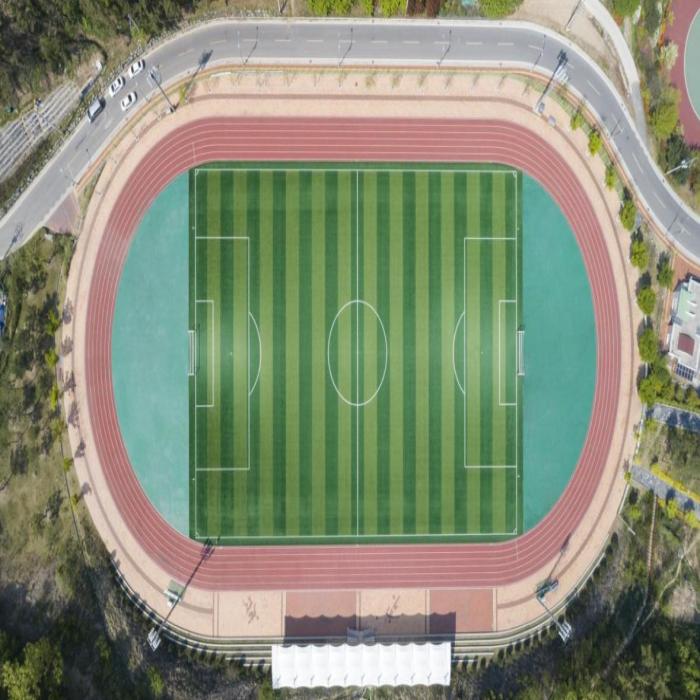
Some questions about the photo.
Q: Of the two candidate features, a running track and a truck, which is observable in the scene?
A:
running track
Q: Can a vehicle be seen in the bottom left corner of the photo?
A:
No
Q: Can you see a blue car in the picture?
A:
No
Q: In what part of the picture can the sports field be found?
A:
center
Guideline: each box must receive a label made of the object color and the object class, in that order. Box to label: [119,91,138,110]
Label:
white car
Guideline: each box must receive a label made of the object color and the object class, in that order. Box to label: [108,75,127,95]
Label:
white car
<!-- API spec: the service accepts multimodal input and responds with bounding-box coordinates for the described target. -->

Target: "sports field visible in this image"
[189,165,523,543]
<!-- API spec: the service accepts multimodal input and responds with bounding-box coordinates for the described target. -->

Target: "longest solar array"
[674,362,695,383]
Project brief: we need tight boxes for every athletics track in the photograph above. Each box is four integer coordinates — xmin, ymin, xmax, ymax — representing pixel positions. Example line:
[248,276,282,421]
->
[86,118,621,589]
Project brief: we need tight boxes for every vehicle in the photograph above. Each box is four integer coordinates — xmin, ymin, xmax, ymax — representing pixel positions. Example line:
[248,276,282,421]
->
[119,91,138,110]
[85,97,105,122]
[128,59,147,78]
[108,75,127,95]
